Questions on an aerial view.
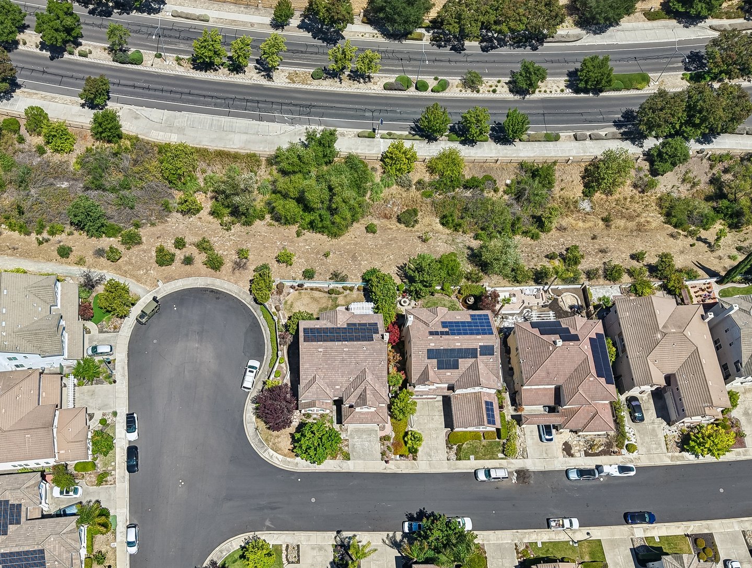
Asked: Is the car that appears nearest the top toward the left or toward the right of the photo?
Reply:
left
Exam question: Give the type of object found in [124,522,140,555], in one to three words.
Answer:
car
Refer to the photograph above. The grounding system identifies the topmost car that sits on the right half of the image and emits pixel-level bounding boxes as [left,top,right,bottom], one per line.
[625,395,645,424]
